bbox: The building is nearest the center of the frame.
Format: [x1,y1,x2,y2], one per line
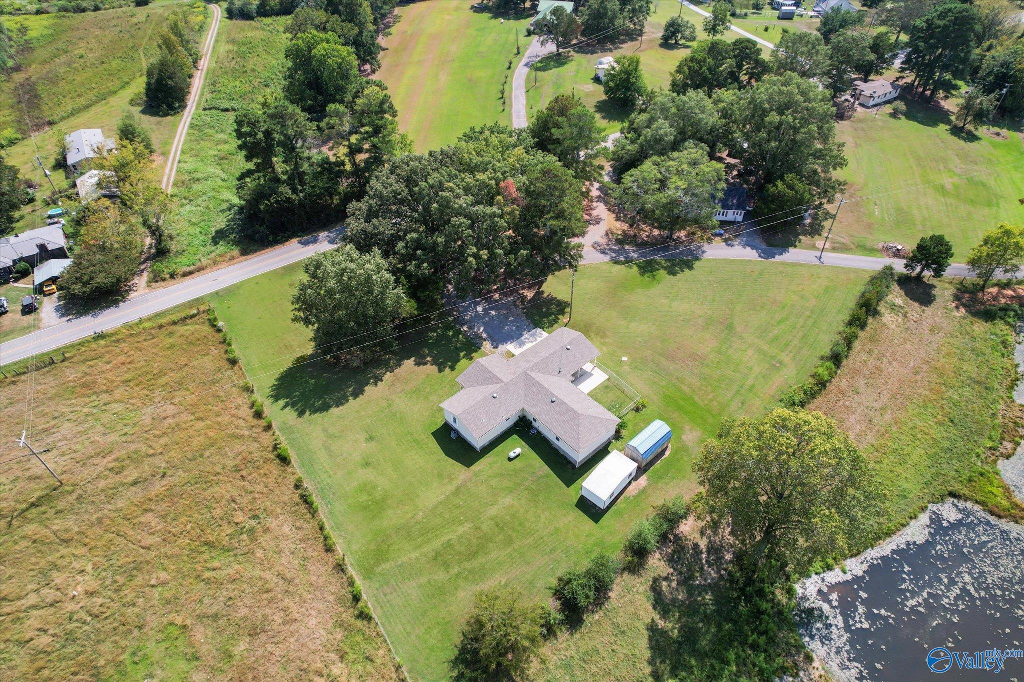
[439,326,622,467]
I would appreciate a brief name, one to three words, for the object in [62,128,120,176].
house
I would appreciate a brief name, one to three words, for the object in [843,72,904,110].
house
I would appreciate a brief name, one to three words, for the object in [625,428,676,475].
shed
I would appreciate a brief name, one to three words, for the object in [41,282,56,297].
car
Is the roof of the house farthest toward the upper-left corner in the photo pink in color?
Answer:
No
